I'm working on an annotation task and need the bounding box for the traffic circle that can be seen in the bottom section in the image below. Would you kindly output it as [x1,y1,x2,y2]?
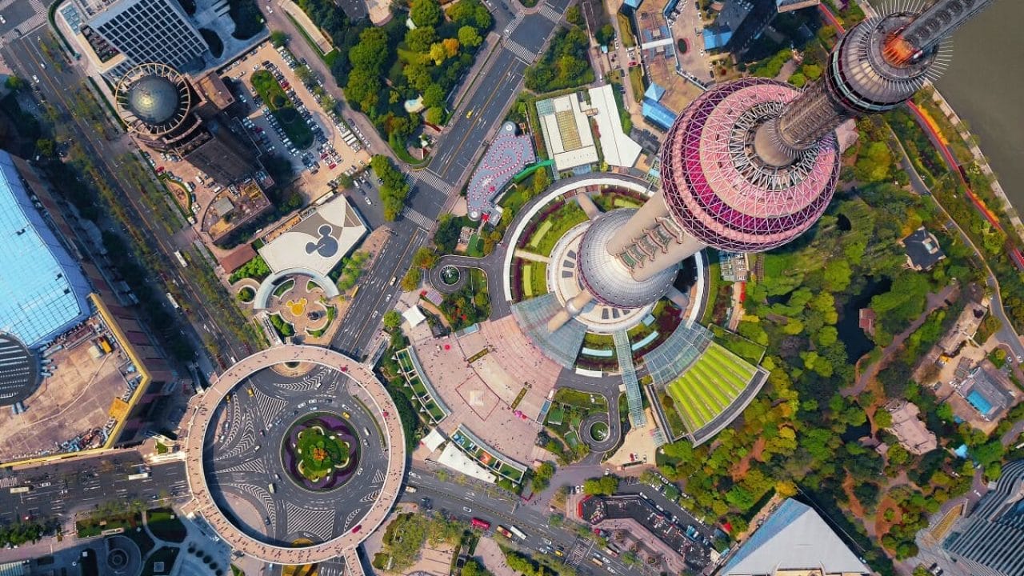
[279,409,363,494]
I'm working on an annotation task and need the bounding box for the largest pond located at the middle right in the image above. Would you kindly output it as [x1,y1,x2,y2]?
[837,272,891,365]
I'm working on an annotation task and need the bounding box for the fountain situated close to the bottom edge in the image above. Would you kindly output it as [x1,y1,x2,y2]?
[93,535,141,576]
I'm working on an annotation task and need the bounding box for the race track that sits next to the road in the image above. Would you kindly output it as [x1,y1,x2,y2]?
[466,122,533,227]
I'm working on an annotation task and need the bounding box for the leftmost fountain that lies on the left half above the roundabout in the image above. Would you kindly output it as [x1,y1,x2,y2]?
[303,306,322,324]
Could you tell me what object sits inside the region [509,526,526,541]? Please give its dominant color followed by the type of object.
white vehicle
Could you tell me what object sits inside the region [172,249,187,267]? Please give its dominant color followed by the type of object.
white vehicle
